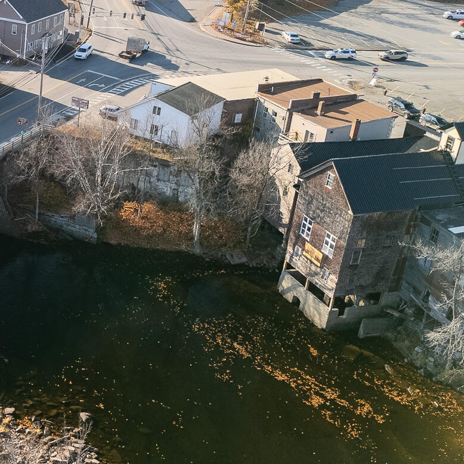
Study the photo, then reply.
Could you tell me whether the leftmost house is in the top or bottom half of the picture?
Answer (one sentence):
You can find the leftmost house in the top half.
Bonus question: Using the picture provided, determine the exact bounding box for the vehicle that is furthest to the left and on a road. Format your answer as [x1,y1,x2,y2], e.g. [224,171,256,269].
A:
[74,41,94,55]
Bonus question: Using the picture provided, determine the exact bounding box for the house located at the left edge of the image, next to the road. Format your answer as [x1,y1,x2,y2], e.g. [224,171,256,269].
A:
[0,0,72,60]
